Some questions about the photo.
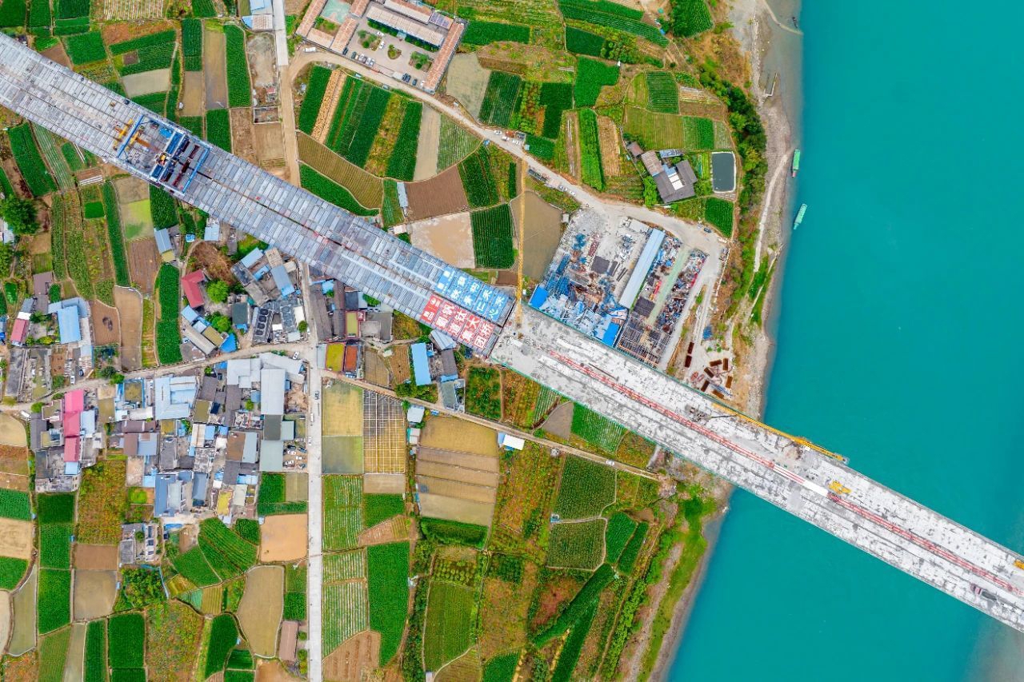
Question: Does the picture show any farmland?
Yes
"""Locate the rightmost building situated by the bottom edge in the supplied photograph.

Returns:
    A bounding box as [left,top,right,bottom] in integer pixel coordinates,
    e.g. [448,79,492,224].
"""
[279,620,299,662]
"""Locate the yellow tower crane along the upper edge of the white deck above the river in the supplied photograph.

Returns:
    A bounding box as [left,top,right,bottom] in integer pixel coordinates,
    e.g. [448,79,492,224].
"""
[714,403,847,463]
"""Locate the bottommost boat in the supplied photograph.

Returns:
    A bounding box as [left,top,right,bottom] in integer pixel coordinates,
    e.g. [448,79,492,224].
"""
[794,205,807,226]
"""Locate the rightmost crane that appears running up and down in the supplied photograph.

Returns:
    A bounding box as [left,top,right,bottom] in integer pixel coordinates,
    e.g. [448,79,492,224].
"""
[514,156,526,345]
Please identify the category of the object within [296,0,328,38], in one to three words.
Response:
building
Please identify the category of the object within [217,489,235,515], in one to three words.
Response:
house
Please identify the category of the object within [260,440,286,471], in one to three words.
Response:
barn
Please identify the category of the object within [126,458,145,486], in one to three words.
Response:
house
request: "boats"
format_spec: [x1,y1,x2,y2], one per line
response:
[794,205,807,226]
[793,150,801,175]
